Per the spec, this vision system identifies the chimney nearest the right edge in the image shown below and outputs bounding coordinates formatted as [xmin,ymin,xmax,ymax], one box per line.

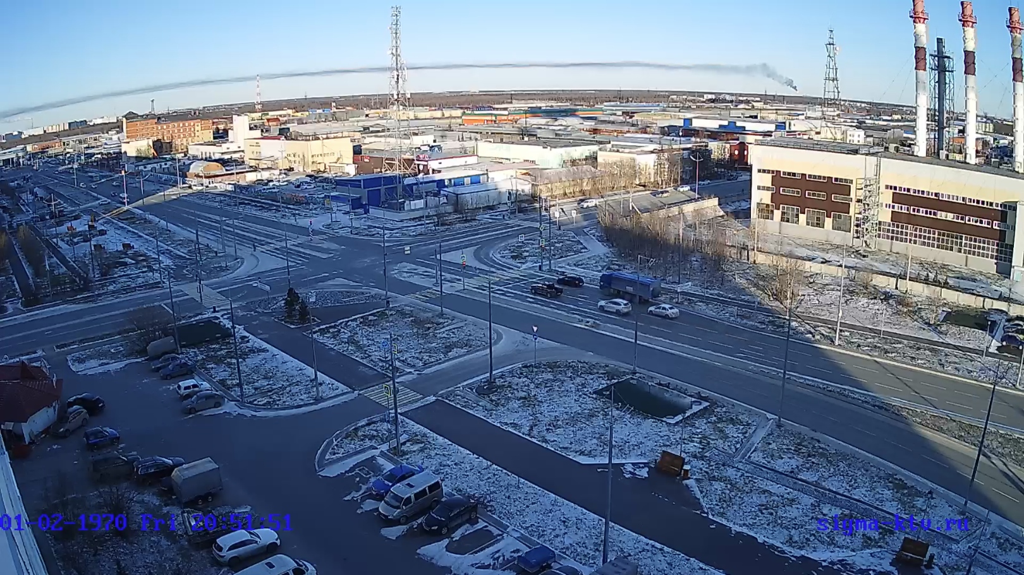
[1005,6,1023,170]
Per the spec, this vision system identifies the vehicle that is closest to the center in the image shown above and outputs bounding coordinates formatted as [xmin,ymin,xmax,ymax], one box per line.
[530,281,562,297]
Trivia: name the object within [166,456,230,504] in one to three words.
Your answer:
trailer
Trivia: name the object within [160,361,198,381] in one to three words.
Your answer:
car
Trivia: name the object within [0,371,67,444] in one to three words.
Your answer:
building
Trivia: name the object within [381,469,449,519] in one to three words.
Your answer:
vehicle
